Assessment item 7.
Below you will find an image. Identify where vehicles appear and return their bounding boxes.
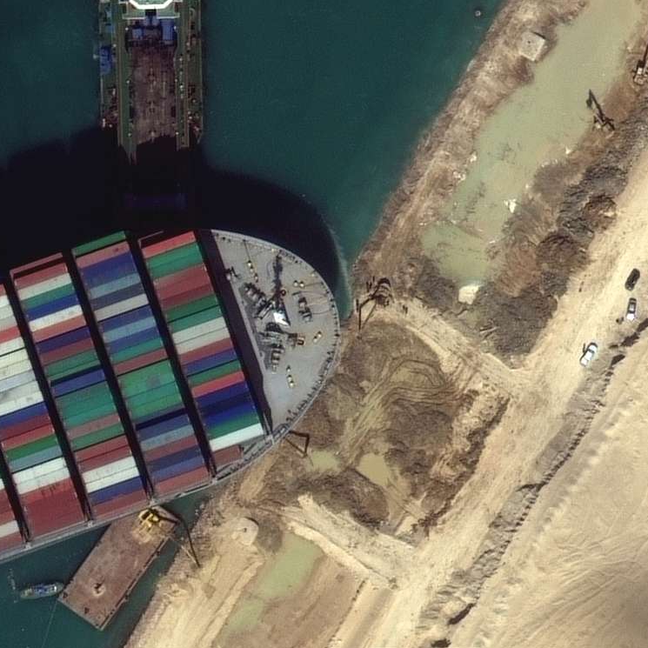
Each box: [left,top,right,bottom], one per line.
[626,297,637,320]
[581,342,597,365]
[591,90,615,138]
[140,505,202,571]
[278,431,310,459]
[625,268,640,290]
[629,43,648,90]
[357,273,398,332]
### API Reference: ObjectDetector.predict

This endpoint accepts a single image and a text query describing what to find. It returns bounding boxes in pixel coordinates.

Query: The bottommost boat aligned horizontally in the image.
[18,582,64,599]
